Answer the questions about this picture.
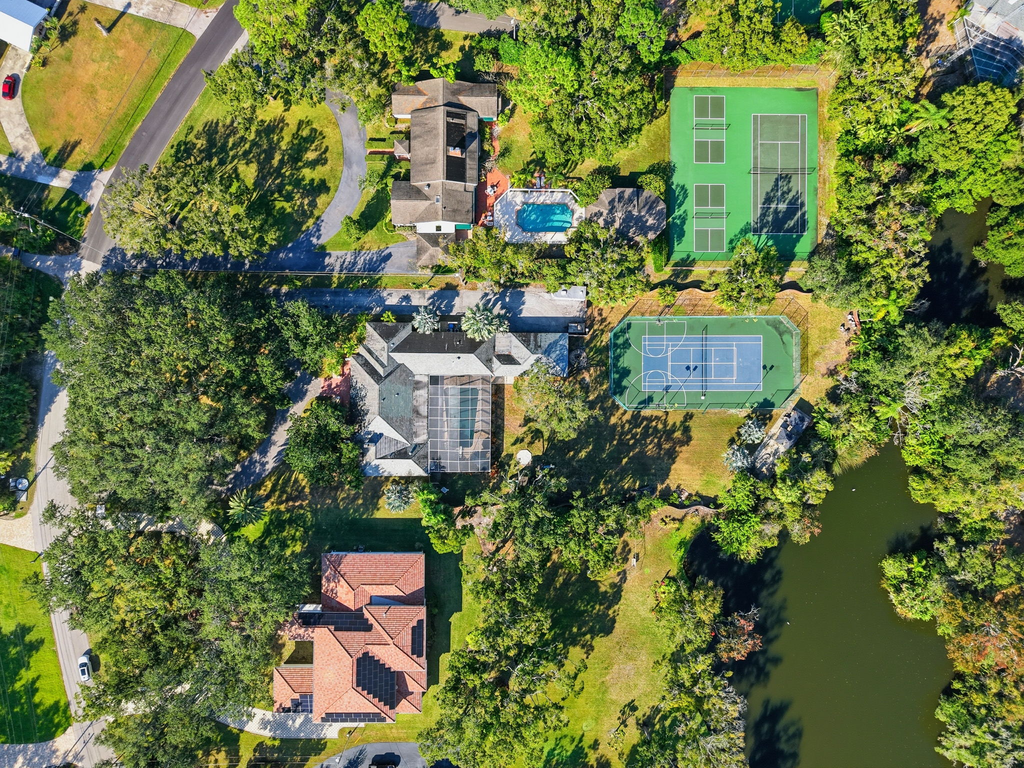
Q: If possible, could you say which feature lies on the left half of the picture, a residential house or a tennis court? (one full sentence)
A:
The feature located on the left half of the picture is a residential house.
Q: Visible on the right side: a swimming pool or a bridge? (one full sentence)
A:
There is a swimming pool on the right side.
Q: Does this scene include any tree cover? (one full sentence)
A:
Yes, there's tree cover in this view.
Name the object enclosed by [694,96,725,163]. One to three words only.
sports court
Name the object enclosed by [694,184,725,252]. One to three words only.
sports court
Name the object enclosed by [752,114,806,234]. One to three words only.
tennis court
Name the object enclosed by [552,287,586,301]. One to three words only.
shed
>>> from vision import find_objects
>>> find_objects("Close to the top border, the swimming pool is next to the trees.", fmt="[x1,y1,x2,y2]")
[955,16,1024,89]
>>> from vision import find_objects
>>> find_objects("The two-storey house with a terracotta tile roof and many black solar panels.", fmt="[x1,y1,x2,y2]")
[273,550,428,723]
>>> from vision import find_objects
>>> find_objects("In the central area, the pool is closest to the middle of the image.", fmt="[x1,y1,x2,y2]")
[429,375,491,473]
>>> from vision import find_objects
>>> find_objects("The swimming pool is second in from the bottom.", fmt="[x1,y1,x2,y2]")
[494,191,585,244]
